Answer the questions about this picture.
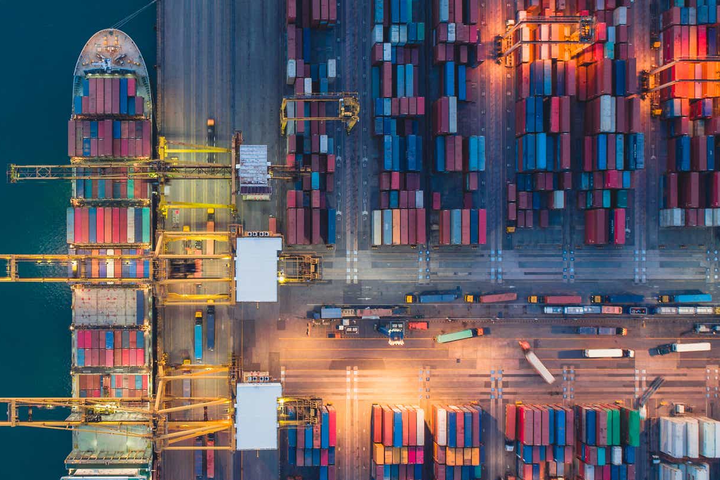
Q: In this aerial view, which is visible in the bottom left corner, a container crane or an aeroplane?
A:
container crane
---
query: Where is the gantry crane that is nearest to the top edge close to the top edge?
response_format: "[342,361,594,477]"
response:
[498,13,599,64]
